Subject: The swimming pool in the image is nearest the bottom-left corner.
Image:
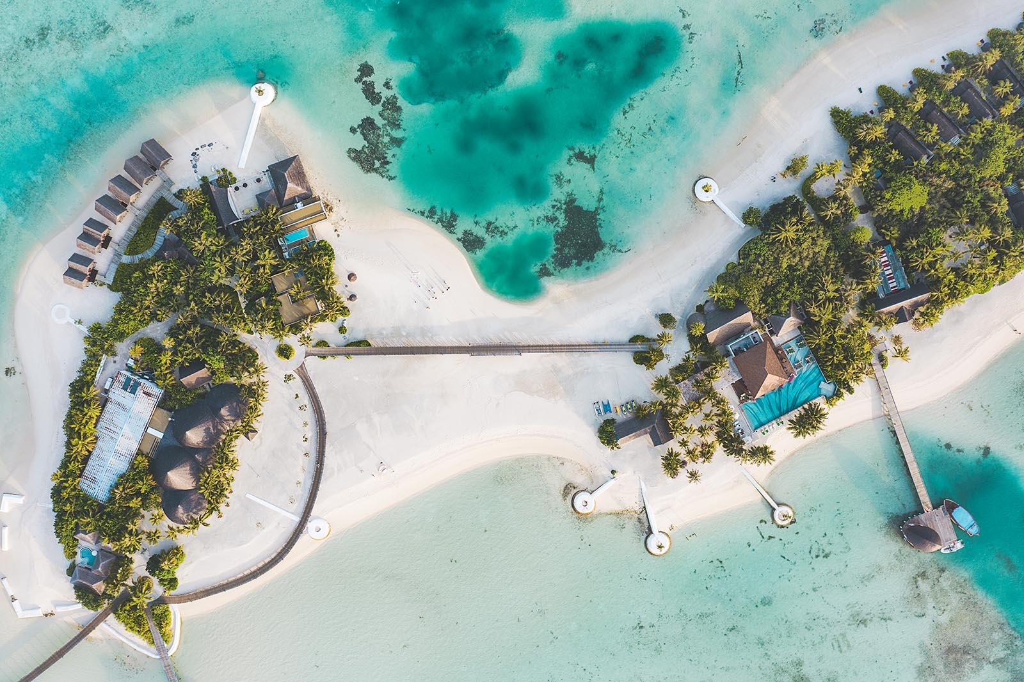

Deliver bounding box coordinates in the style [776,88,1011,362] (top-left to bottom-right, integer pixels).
[79,545,97,567]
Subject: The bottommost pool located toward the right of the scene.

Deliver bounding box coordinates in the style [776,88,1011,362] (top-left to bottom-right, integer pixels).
[739,335,827,430]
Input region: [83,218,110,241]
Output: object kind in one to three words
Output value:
shed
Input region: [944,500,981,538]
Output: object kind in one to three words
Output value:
boat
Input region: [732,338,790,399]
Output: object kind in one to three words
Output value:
building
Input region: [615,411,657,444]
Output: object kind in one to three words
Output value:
house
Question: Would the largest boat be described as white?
No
